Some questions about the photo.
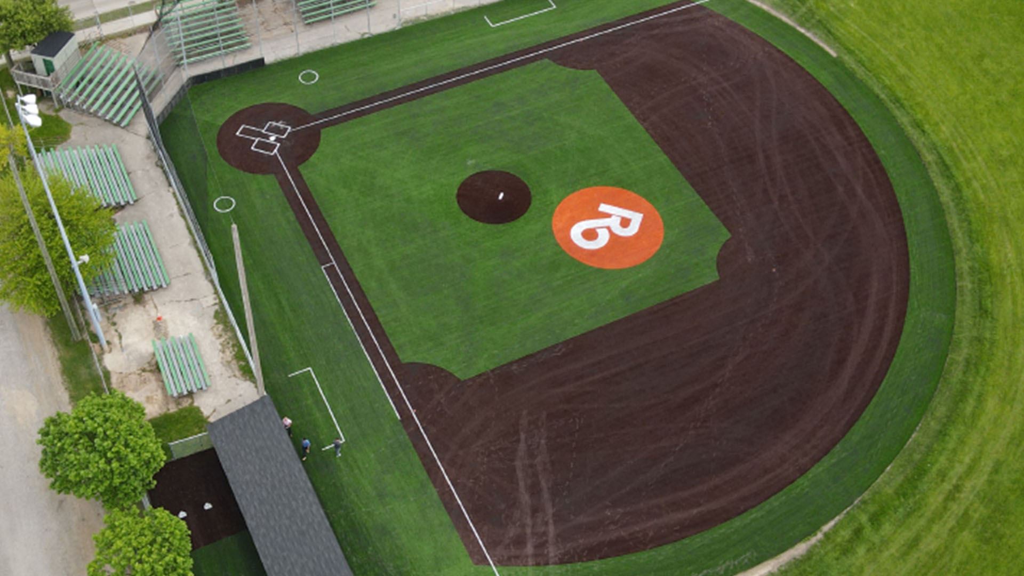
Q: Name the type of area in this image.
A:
sports ground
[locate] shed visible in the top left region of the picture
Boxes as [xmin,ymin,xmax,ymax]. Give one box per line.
[19,31,83,108]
